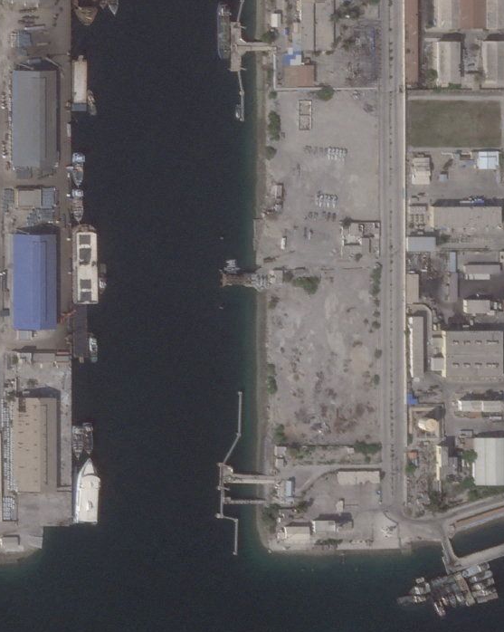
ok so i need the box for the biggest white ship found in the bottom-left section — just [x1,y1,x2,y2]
[75,459,101,523]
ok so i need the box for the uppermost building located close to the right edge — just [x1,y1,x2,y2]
[434,0,504,28]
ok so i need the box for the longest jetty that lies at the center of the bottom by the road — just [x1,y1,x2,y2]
[216,391,275,555]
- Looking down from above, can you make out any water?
Yes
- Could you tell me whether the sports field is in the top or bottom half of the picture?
top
